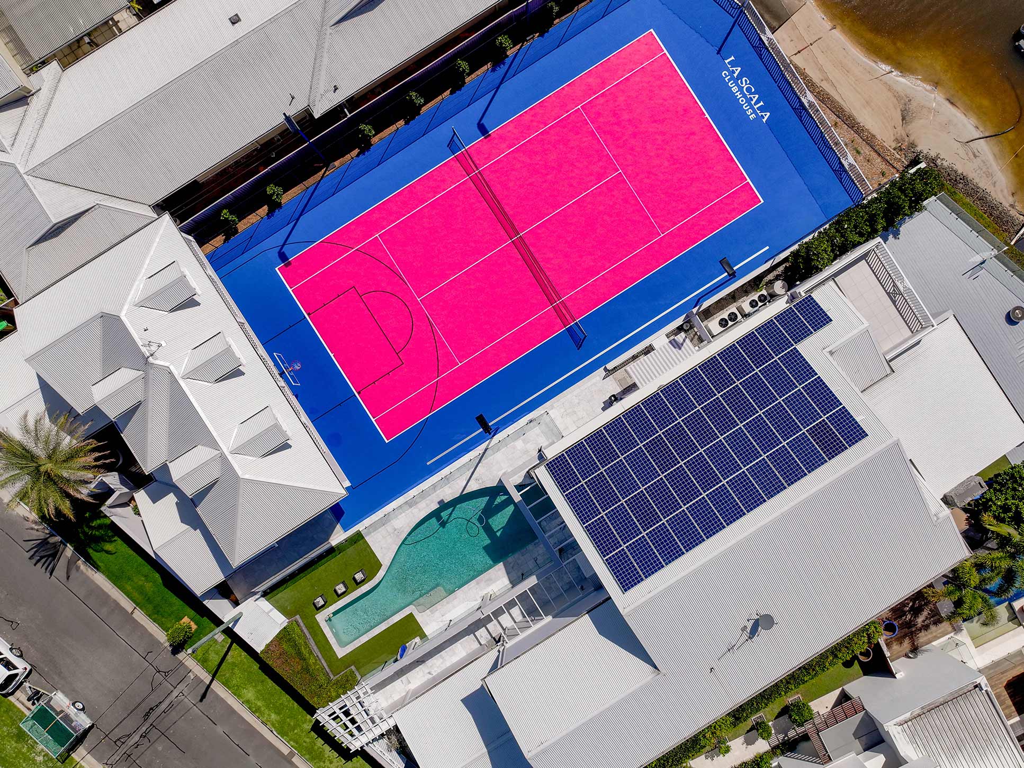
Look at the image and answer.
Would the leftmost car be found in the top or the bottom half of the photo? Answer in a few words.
bottom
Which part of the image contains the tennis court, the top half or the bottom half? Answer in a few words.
top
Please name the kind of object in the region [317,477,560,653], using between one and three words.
swimming pool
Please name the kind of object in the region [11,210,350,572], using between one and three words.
house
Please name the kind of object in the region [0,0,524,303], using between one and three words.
house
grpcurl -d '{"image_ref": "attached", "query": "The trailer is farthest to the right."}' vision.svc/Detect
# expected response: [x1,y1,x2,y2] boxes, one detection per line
[19,679,95,758]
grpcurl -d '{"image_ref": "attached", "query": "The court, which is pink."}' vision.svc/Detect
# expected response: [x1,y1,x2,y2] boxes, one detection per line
[207,0,863,531]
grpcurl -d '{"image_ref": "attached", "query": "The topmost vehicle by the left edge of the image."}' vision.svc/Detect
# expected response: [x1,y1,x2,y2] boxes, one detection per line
[0,642,28,696]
